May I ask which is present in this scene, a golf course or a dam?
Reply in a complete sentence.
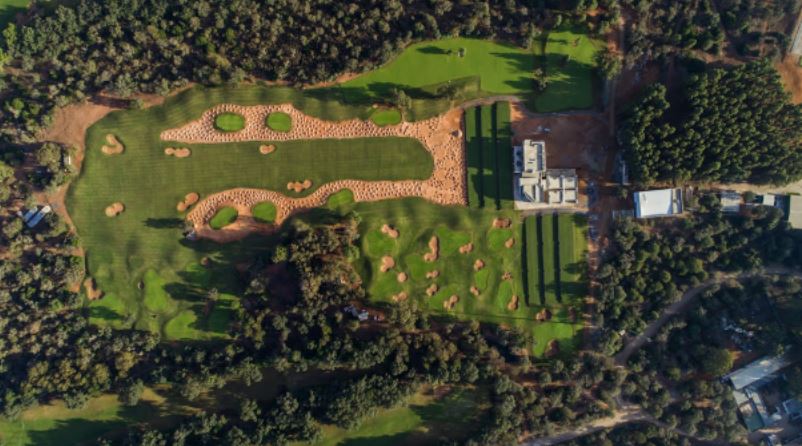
I can see a golf course in this picture.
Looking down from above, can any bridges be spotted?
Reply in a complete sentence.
No, I find no bridge anywhere in the image.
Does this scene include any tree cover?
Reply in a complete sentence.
Yes, there's tree cover in this view.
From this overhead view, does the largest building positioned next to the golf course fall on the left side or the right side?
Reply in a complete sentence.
It is on the right.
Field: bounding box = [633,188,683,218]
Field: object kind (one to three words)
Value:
shed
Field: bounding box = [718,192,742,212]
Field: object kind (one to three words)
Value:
house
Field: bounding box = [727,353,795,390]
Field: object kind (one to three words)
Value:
barn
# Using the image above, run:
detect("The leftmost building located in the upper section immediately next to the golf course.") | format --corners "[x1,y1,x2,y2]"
[512,140,577,204]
